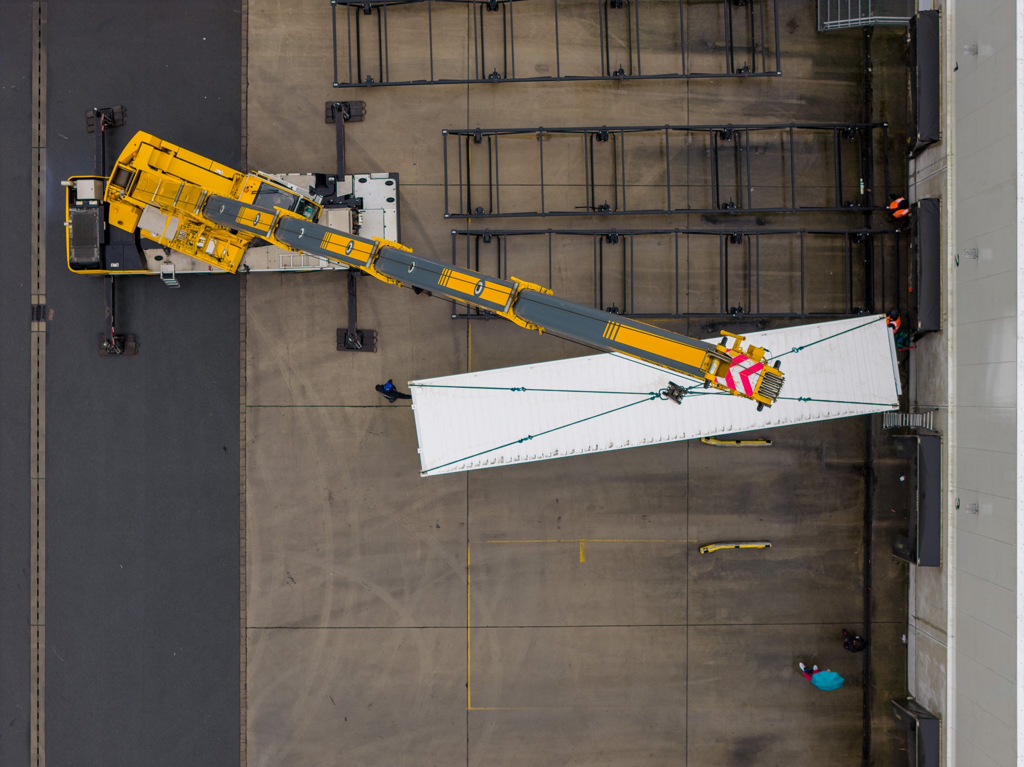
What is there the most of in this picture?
paved ground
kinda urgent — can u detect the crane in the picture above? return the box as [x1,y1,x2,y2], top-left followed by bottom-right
[60,101,790,412]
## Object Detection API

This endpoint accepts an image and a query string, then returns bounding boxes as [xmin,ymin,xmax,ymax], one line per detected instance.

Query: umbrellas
[810,665,845,692]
